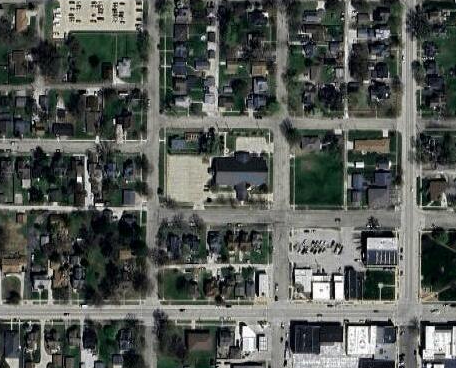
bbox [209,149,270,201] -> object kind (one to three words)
building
